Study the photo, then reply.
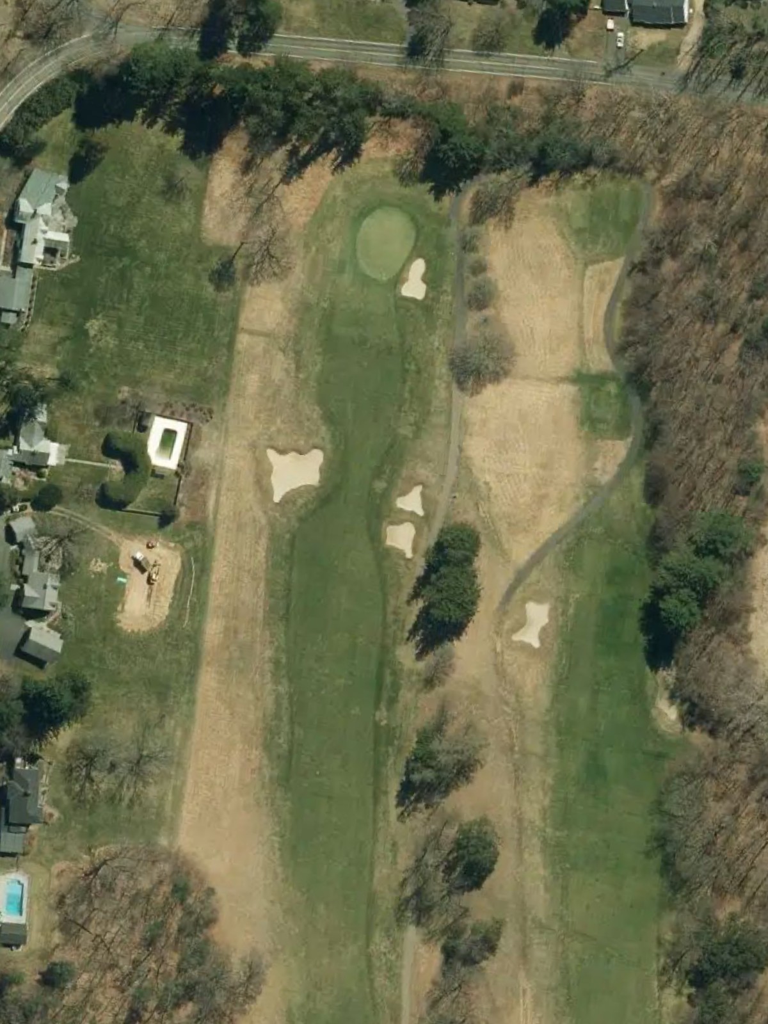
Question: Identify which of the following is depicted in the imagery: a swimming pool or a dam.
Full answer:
The one in the frame is a swimming pool.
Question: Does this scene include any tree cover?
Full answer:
Yes, there is tree cover in the image.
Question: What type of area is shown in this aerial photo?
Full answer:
This image shows a golf course.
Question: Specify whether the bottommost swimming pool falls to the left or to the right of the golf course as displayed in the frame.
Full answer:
Looking at the photo, the bottommost swimming pool lies to the left of the golf course.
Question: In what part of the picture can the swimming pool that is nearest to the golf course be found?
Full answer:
The swimming pool that is nearest to the golf course sits in the left section of the image.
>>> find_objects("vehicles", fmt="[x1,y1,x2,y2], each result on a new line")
[135,553,152,573]
[607,17,614,31]
[150,562,159,582]
[618,32,624,47]
[148,541,158,547]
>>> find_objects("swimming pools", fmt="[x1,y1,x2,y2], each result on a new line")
[0,872,29,924]
[148,416,187,470]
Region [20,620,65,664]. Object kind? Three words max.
building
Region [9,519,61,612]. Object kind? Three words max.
house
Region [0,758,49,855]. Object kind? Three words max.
house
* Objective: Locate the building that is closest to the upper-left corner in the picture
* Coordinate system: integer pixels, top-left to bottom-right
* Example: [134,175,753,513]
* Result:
[13,164,79,270]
